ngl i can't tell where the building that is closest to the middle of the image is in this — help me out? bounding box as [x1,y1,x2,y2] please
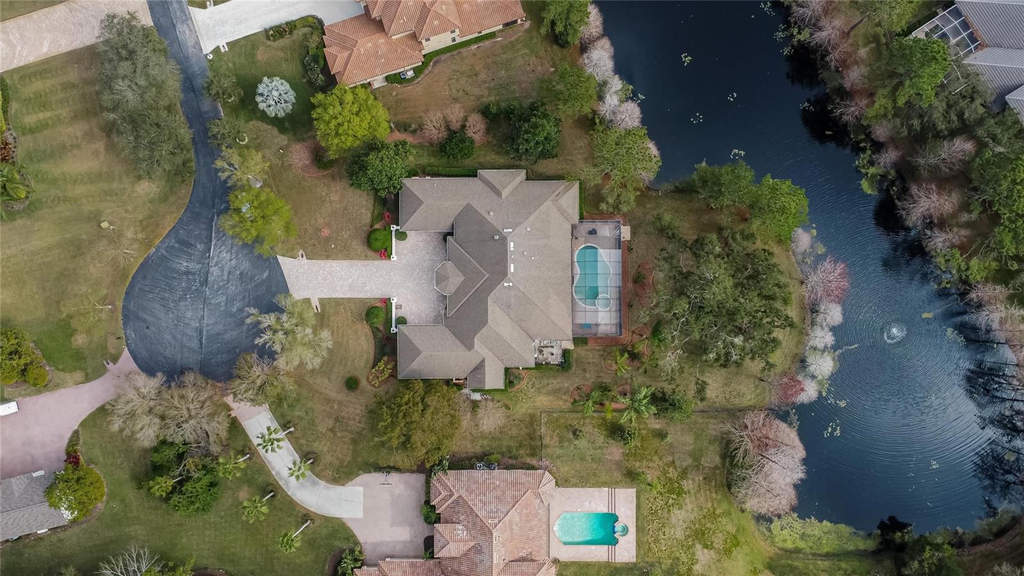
[397,169,579,389]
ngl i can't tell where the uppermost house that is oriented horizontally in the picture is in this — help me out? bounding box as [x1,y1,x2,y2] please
[323,0,525,88]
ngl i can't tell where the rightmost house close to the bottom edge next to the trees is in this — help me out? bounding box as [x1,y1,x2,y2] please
[354,469,558,576]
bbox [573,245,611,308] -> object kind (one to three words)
swimming pool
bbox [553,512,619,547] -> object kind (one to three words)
swimming pool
